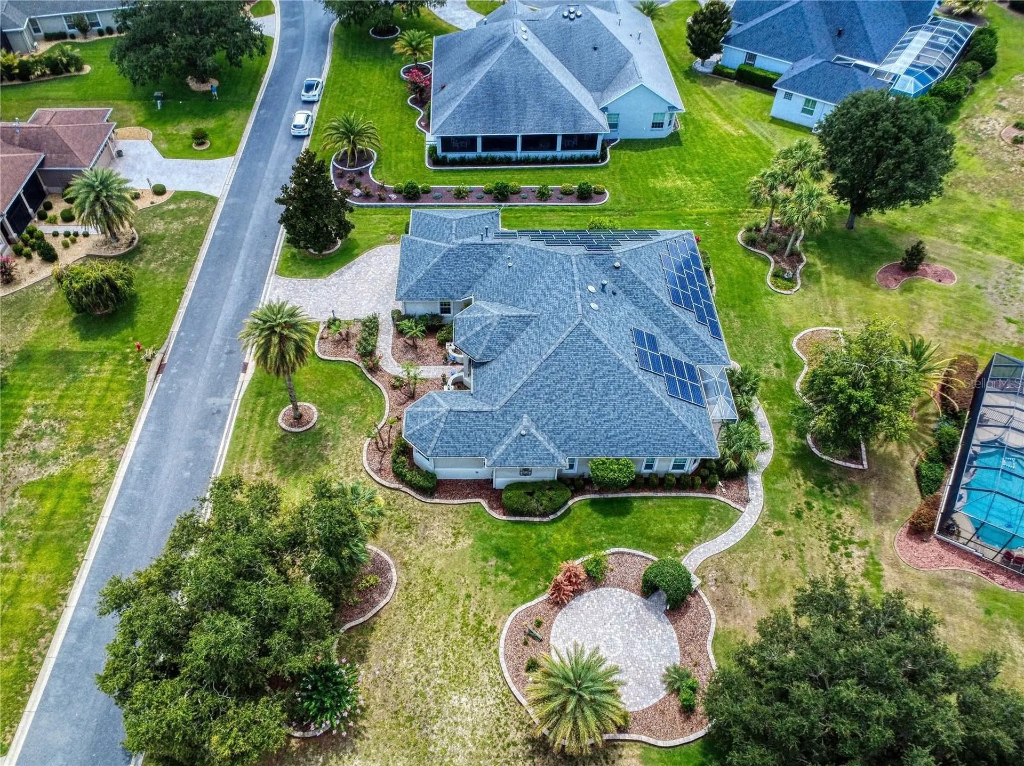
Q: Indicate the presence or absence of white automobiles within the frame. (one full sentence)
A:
Yes, a white automobile appears in the view.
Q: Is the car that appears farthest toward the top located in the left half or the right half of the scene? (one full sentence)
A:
The car that appears farthest toward the top appears in the left half of the scene.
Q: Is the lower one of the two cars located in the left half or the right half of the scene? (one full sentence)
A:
The lower one of the two cars sits on the left side.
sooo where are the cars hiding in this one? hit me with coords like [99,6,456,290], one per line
[297,77,321,102]
[289,109,313,136]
